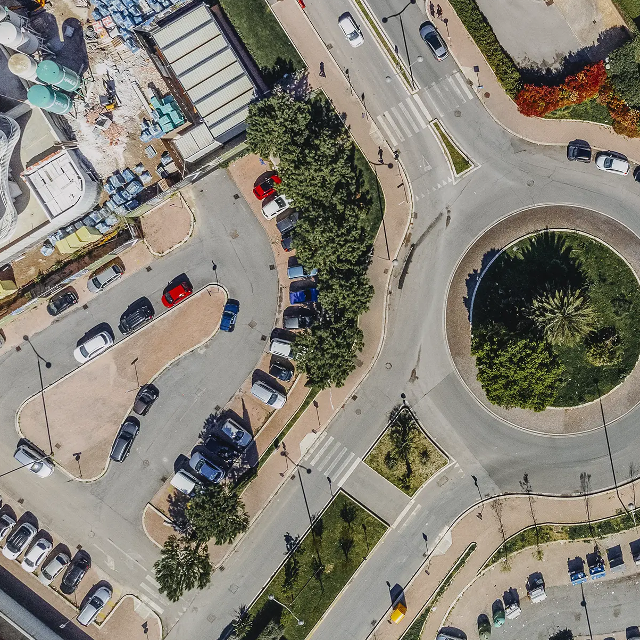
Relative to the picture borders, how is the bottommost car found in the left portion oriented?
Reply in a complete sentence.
The bottommost car found in the left portion runs at an angle in the image.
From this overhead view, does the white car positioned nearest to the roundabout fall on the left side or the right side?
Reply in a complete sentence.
The white car positioned nearest to the roundabout appears in the right half of the scene.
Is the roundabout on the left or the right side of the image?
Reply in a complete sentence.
The roundabout sits on the right side.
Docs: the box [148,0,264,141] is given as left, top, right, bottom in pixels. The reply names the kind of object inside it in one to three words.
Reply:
shed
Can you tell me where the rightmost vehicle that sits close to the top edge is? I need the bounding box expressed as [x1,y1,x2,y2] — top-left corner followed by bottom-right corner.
[419,22,449,63]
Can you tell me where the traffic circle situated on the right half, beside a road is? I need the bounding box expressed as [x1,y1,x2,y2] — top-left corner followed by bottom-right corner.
[443,203,640,436]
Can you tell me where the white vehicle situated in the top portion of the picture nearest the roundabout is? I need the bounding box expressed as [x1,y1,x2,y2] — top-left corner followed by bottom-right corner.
[593,153,632,176]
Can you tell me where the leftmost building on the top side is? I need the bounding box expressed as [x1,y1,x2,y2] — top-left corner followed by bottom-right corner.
[0,85,108,267]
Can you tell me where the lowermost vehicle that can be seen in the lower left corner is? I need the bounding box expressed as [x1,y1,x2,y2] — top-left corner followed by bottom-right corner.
[77,583,114,630]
